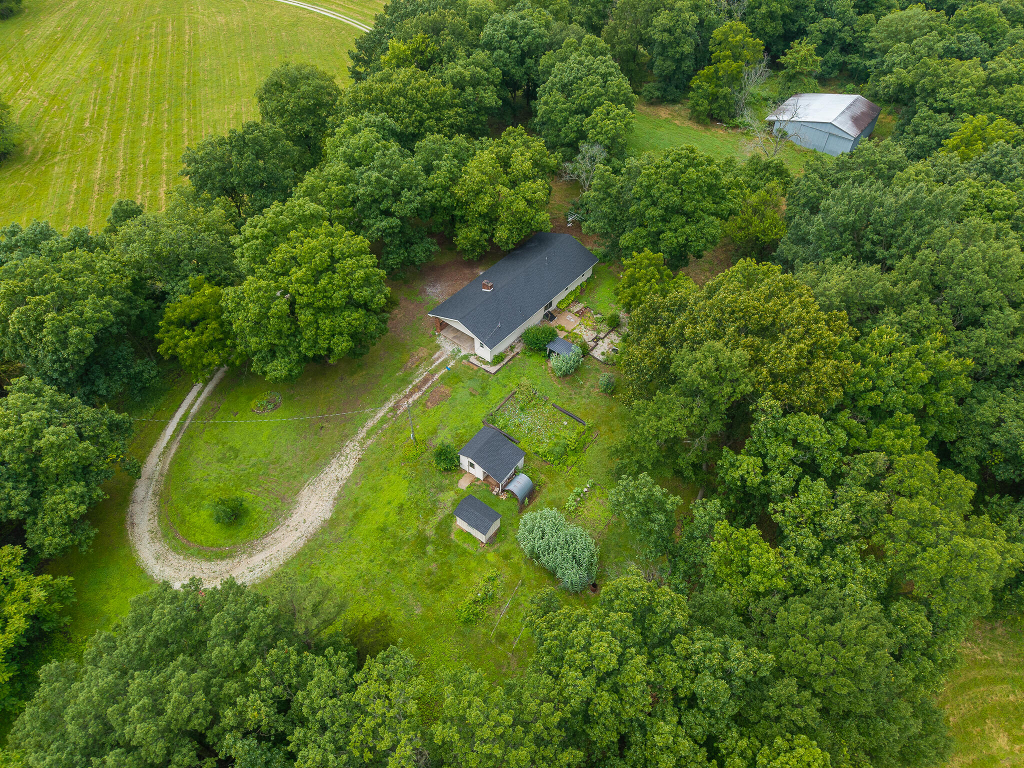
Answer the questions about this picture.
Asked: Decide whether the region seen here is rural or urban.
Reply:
rural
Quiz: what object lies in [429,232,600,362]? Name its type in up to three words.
house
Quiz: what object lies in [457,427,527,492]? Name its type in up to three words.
shed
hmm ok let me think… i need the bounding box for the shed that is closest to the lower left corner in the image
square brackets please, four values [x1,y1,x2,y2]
[453,496,502,544]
